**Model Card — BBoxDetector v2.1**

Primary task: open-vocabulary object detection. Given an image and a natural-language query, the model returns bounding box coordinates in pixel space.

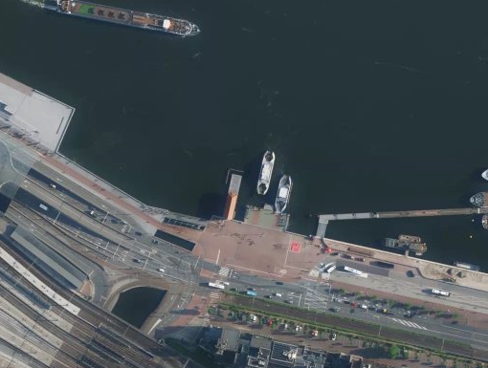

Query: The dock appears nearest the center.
[226,168,244,220]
